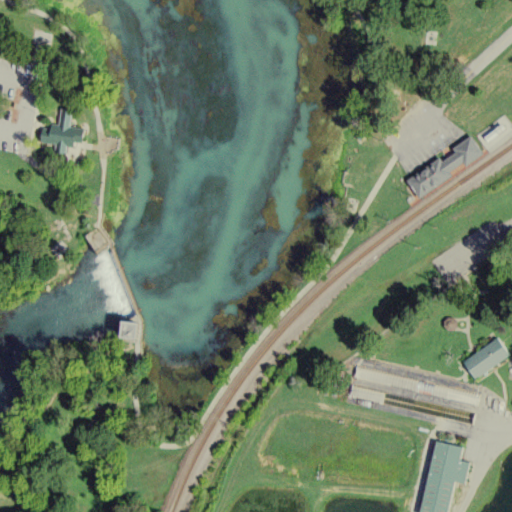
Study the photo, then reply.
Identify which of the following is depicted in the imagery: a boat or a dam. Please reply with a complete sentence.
Looking from above, you can make out a dam.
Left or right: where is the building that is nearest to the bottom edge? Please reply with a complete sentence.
The building that is nearest to the bottom edge sits on the right side.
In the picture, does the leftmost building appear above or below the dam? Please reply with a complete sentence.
From this view, the leftmost building can be seen above the dam.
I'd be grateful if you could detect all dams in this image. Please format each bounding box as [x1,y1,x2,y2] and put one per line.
[59,243,145,350]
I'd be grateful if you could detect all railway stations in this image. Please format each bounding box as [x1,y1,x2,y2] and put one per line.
[405,134,484,198]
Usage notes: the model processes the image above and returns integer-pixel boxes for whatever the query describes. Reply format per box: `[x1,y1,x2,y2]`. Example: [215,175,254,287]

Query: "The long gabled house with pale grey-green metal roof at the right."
[466,340,509,378]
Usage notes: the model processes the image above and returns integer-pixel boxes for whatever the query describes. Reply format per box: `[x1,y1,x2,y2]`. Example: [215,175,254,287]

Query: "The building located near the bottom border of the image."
[421,440,468,512]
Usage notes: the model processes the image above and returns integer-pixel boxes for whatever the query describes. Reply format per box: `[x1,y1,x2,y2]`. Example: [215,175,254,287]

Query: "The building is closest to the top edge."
[40,110,82,154]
